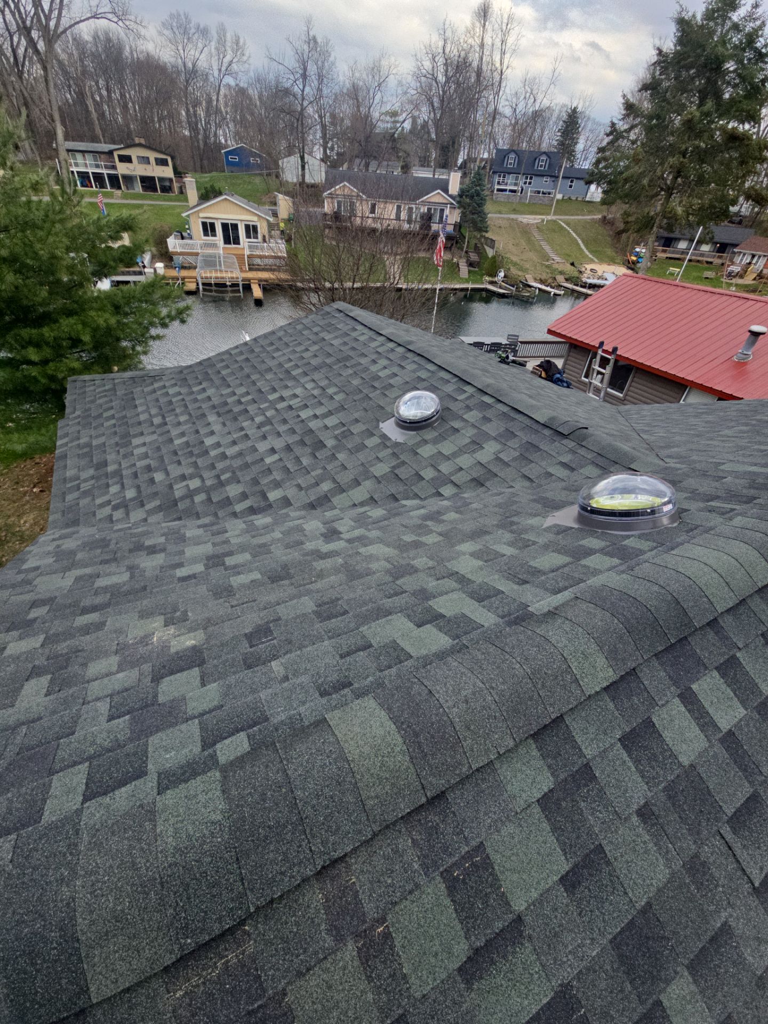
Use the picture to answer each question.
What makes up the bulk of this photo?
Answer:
buildings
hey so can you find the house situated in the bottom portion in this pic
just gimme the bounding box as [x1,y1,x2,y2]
[0,297,768,1024]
